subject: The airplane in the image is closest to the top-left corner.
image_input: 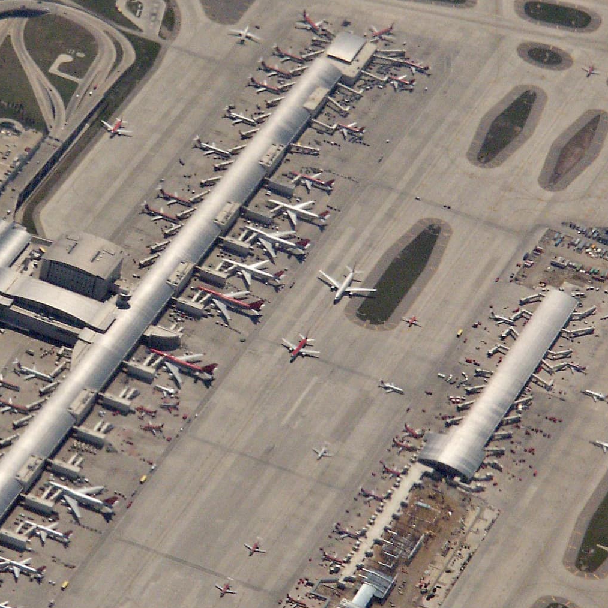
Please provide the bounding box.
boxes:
[102,112,132,136]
